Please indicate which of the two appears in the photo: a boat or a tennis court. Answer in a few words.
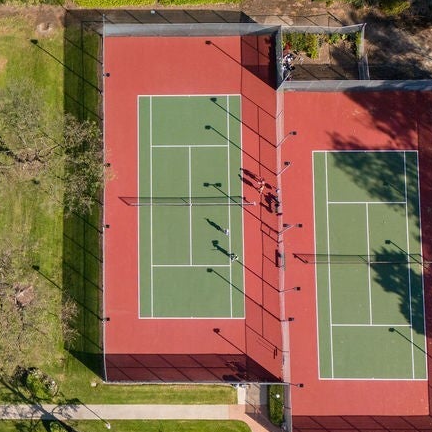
tennis court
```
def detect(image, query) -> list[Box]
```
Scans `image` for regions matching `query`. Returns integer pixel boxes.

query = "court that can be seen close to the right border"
[276,90,432,432]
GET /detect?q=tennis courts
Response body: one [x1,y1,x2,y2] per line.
[103,35,282,382]
[276,90,432,432]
